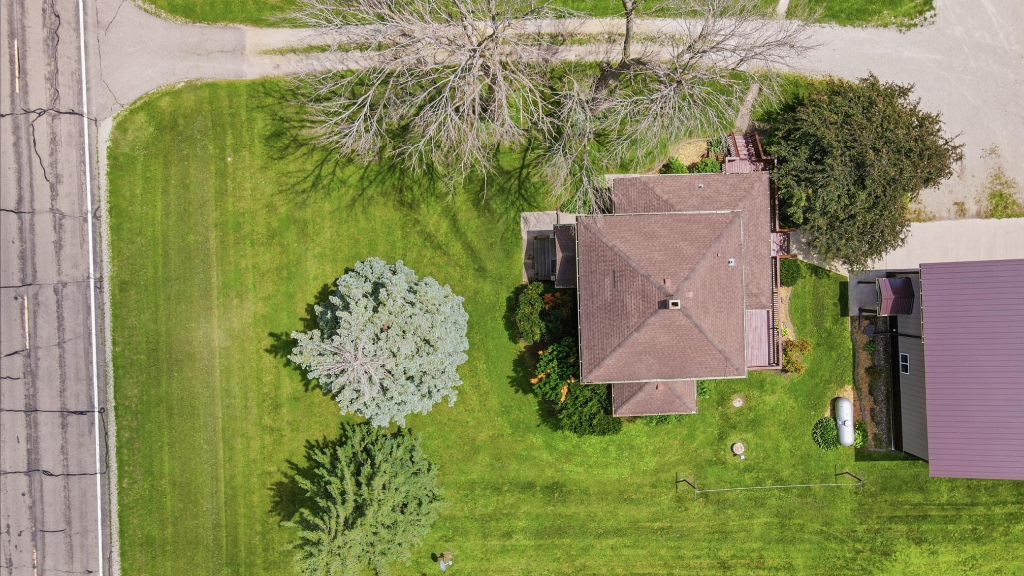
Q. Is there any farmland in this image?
No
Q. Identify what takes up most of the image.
grass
